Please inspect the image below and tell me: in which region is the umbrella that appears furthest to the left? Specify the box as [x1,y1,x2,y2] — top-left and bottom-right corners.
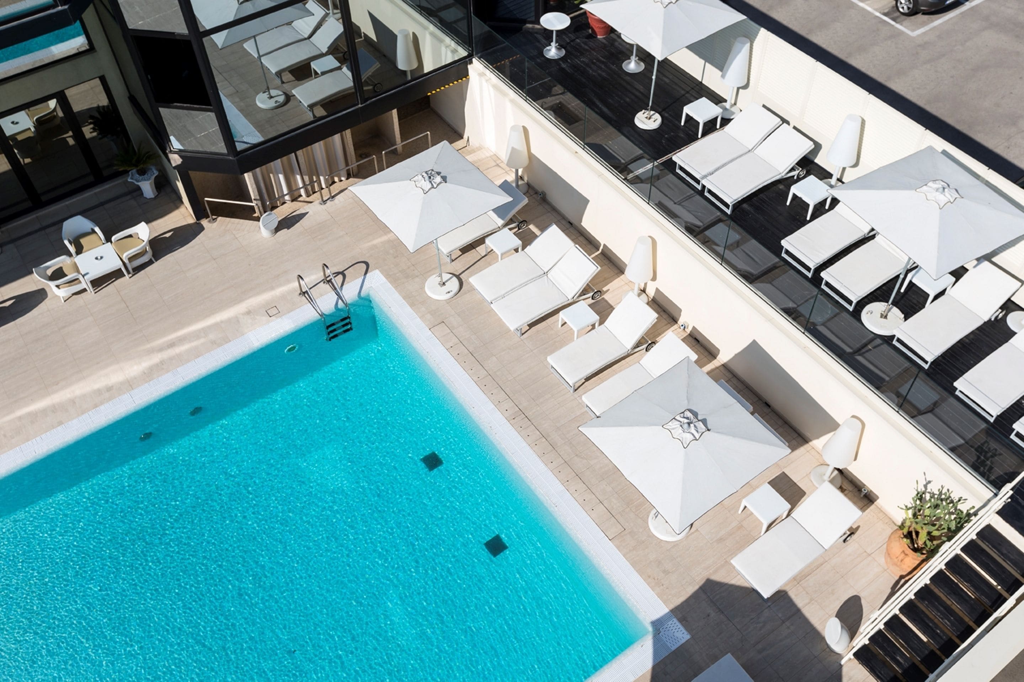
[348,140,517,299]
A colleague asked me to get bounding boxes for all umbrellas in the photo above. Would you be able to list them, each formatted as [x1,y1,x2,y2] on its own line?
[579,0,748,129]
[348,140,517,299]
[581,359,795,541]
[827,143,1024,332]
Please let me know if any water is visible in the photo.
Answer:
Yes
